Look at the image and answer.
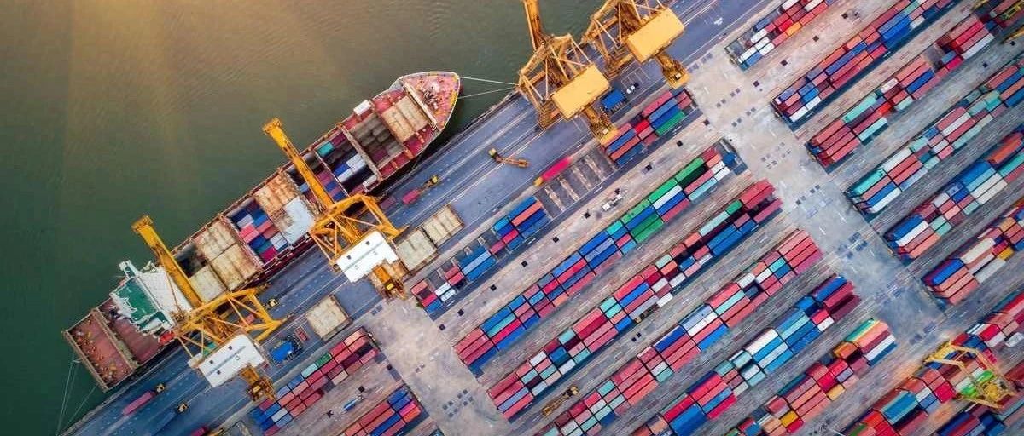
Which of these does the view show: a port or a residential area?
port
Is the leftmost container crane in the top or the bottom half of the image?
bottom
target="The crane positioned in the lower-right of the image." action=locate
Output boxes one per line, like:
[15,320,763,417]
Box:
[918,334,1022,420]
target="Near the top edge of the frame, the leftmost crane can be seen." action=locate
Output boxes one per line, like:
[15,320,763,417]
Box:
[508,0,620,150]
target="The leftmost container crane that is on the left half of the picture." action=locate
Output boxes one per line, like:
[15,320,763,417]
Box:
[127,211,304,403]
